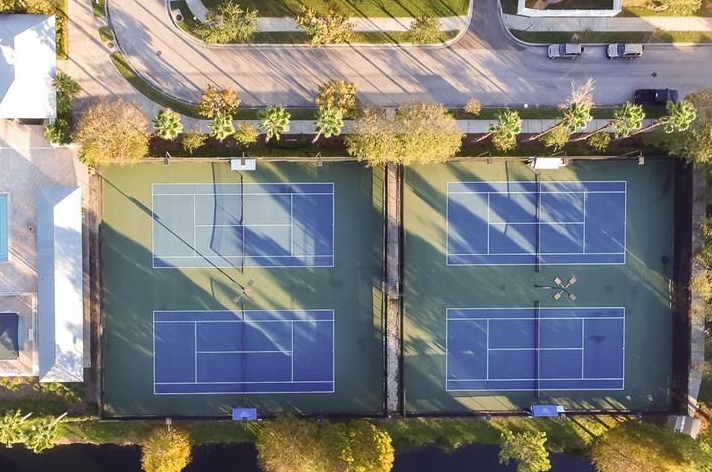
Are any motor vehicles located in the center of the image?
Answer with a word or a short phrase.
No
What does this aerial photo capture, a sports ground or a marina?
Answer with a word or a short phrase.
sports ground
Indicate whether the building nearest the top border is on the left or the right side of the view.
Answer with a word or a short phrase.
left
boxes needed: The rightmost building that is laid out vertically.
[36,186,84,382]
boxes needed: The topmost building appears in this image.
[0,14,57,120]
